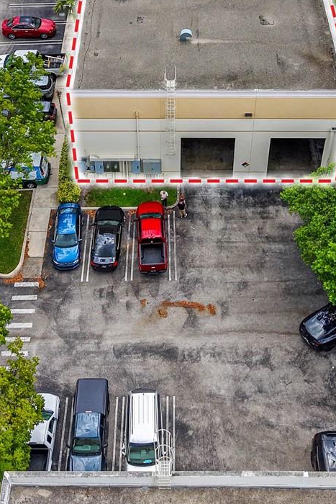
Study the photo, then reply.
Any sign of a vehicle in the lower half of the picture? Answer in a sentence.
Yes, you'll find a vehicle in the lower half of the picture.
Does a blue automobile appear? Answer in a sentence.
Yes, the image includes a blue automobile.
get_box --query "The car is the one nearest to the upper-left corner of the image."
[0,11,60,37]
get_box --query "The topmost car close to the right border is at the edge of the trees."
[298,297,336,349]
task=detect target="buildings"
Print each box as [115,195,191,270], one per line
[67,0,336,182]
[4,471,336,504]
